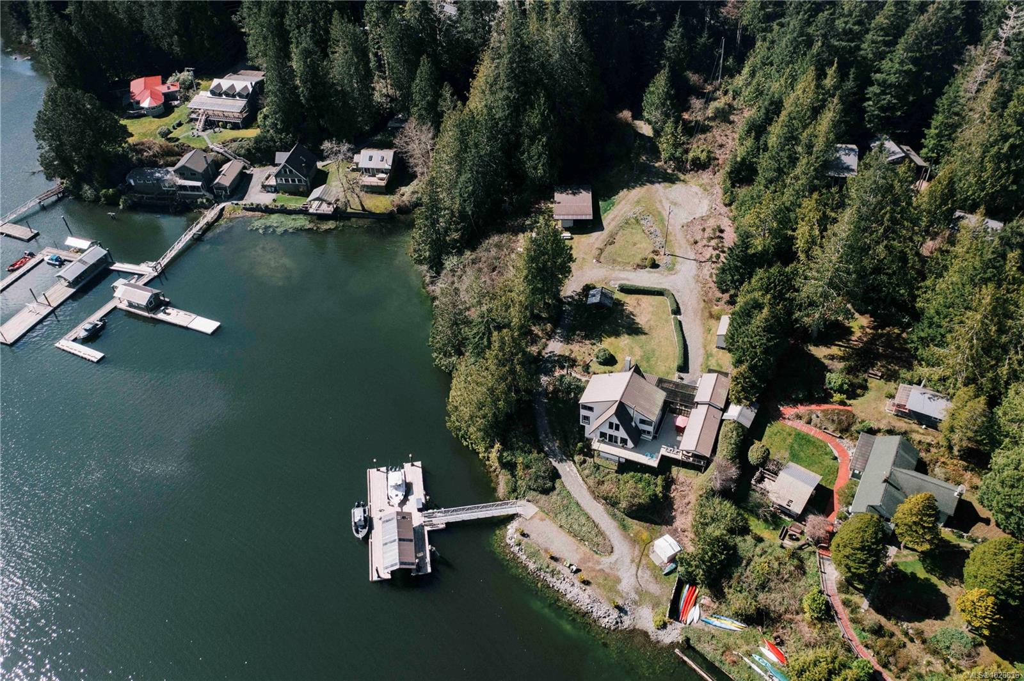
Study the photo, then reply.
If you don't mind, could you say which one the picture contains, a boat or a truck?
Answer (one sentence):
It is a boat that can be seen here.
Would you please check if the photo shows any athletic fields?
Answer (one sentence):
No, the frame has no athletic field in it.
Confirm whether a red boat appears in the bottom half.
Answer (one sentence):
Yes, I can see a red boat in the bottom half.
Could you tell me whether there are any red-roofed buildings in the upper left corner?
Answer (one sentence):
Yes, a red-roofed building can be seen in the upper left corner.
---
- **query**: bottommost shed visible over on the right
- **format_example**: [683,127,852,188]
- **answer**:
[649,534,682,566]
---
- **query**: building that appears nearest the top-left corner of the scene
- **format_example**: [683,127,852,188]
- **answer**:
[128,76,182,115]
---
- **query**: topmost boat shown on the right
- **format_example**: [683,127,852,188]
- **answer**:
[660,560,679,576]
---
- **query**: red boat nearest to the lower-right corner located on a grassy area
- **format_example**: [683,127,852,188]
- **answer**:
[763,639,786,664]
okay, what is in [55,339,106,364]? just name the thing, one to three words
pier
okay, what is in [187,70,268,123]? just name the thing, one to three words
building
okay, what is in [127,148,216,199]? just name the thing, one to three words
house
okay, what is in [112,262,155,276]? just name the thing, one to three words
pier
